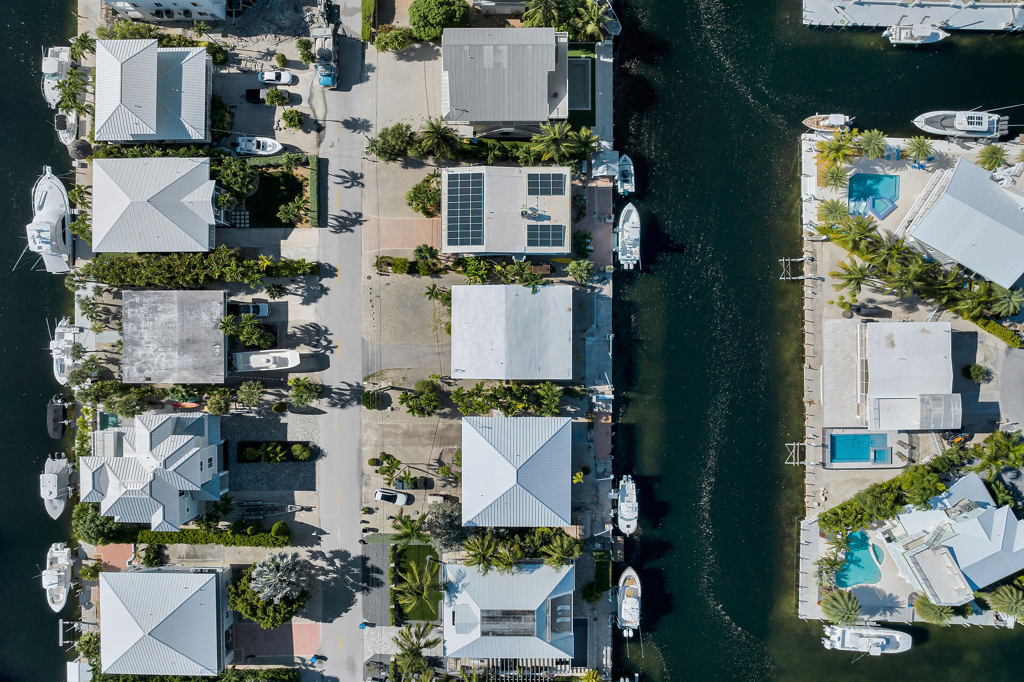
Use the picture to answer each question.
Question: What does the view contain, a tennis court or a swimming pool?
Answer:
swimming pool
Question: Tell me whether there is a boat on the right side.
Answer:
Yes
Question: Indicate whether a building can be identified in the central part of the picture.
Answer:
Yes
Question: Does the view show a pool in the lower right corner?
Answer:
Yes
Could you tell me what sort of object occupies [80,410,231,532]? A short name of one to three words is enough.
house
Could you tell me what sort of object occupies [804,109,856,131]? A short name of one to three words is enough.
boat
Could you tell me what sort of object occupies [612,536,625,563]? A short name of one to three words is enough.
pier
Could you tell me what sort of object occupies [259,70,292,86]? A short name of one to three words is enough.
car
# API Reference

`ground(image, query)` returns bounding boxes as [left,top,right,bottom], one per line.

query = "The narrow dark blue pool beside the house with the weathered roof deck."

[571,616,590,670]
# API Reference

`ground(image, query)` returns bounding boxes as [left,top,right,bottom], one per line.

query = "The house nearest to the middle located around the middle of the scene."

[451,284,573,379]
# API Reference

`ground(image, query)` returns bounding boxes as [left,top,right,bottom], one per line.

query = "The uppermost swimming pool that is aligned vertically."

[567,57,592,111]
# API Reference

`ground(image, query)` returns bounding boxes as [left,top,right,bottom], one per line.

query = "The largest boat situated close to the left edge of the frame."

[1,154,83,272]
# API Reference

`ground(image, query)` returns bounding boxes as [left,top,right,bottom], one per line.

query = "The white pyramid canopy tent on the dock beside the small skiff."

[590,145,618,175]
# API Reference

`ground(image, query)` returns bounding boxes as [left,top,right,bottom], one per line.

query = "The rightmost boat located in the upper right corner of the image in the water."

[916,101,1023,138]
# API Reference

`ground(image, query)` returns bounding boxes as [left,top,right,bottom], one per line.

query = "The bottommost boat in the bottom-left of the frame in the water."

[28,544,72,611]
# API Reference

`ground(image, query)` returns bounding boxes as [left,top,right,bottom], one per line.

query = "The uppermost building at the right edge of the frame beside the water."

[895,157,1024,289]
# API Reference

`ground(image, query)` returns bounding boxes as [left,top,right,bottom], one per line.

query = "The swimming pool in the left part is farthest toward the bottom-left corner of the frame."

[98,411,119,431]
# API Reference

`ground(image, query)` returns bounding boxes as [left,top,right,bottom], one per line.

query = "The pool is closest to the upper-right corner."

[847,172,901,219]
